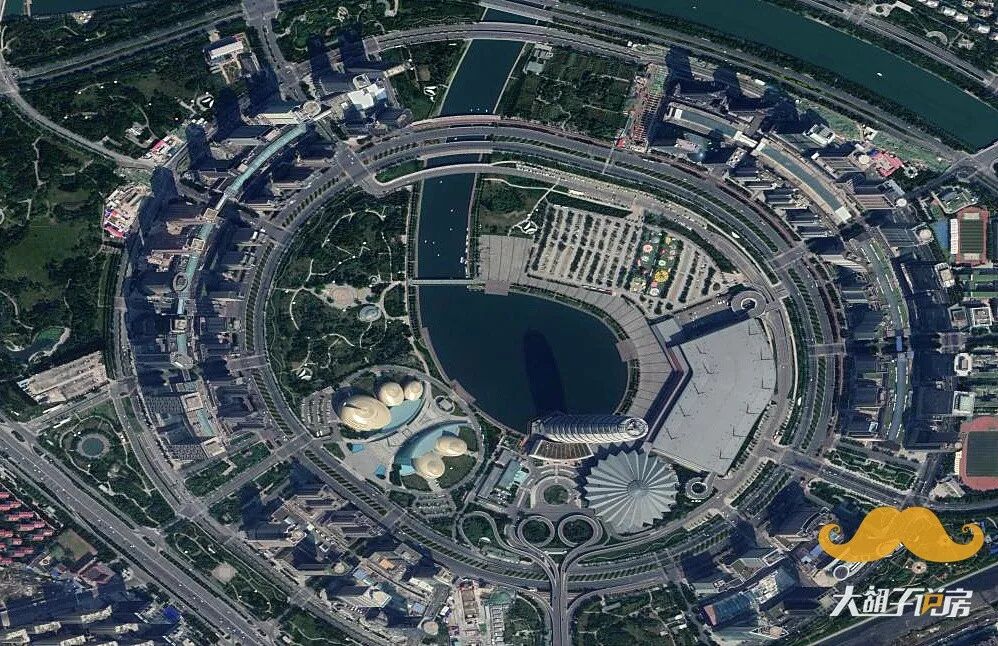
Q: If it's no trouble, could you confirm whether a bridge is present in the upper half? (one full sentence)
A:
Yes, a bridge shows up in the upper half.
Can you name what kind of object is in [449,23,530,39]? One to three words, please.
bridge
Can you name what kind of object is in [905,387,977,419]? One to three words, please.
building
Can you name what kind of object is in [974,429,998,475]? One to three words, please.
sports field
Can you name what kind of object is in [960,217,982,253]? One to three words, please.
sports field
